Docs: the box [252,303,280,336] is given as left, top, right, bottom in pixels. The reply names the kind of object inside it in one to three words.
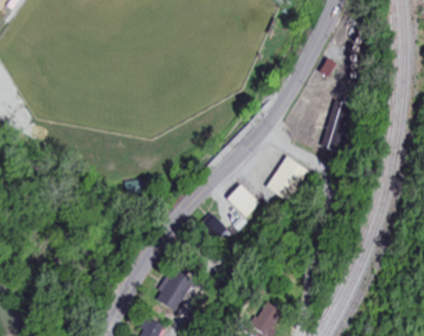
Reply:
house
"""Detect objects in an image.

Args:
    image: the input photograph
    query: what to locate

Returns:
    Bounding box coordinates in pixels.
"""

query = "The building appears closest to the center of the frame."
[227,184,258,214]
